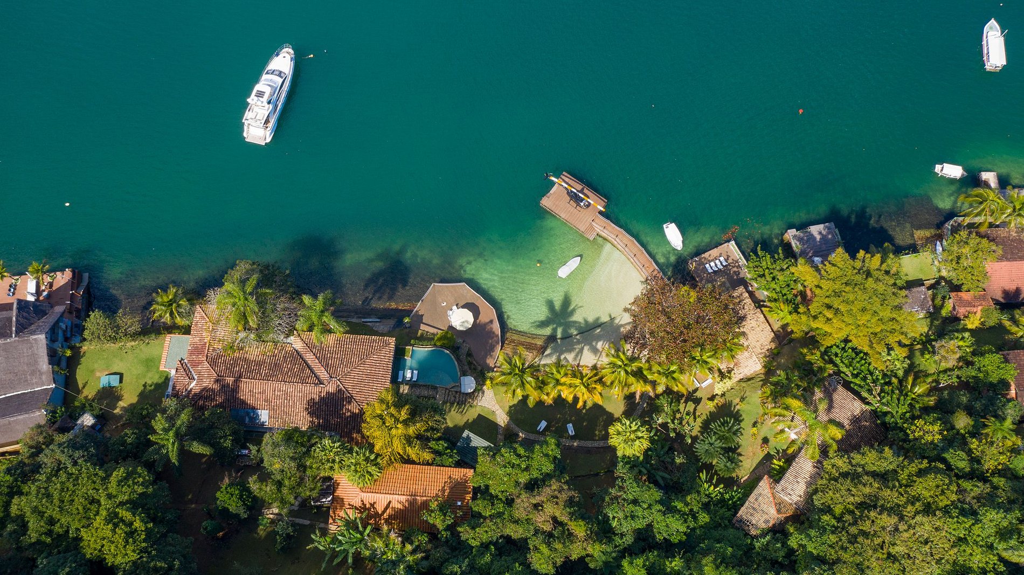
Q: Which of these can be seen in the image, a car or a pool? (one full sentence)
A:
There is a pool in the scene.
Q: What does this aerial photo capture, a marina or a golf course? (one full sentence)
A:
This looks like a marina.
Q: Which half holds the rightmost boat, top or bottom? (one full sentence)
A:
You can find the rightmost boat in the top half.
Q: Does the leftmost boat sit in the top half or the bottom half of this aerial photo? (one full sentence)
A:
Seen from above, the leftmost boat lies in the top half of the view.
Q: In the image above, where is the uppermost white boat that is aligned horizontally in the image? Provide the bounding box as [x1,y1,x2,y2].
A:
[932,163,970,179]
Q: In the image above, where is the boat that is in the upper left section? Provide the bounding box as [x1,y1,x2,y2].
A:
[242,44,293,145]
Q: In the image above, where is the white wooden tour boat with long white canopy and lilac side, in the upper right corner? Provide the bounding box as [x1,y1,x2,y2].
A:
[982,18,1015,74]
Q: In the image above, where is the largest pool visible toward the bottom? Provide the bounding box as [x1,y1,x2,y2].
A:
[392,343,465,387]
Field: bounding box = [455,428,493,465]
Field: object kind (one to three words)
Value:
shed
